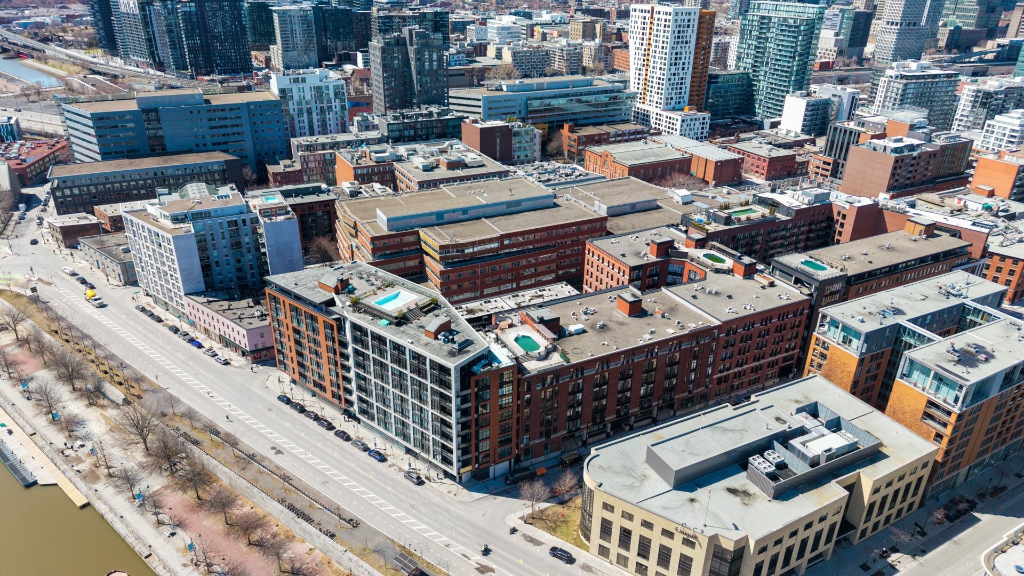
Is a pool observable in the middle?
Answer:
Yes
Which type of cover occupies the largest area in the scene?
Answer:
buildings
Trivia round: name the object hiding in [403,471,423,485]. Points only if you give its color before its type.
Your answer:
gray car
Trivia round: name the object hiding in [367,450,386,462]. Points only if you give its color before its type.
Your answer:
blue vehicle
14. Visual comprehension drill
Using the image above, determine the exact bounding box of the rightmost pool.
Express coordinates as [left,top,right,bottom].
[798,260,830,272]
